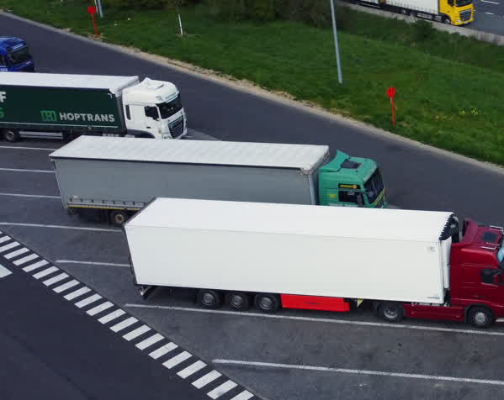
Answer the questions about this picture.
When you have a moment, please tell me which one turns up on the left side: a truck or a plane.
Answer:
truck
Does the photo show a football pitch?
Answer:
No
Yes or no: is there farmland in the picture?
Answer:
No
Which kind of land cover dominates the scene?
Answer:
paved ground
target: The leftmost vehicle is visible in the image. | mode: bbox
[0,41,34,72]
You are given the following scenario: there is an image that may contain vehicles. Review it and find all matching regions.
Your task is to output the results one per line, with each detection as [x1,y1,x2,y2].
[122,197,504,325]
[49,138,384,229]
[0,41,34,72]
[345,0,472,24]
[0,71,183,144]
